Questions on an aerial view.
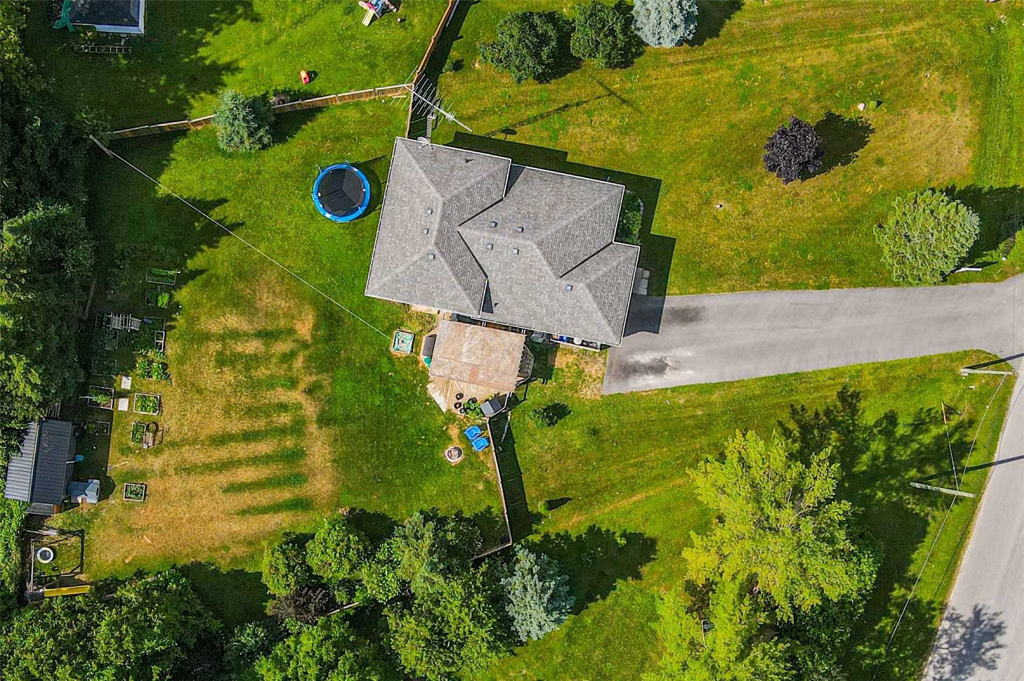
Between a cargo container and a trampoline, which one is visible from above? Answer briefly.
trampoline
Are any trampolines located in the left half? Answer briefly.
Yes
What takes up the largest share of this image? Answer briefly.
grass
